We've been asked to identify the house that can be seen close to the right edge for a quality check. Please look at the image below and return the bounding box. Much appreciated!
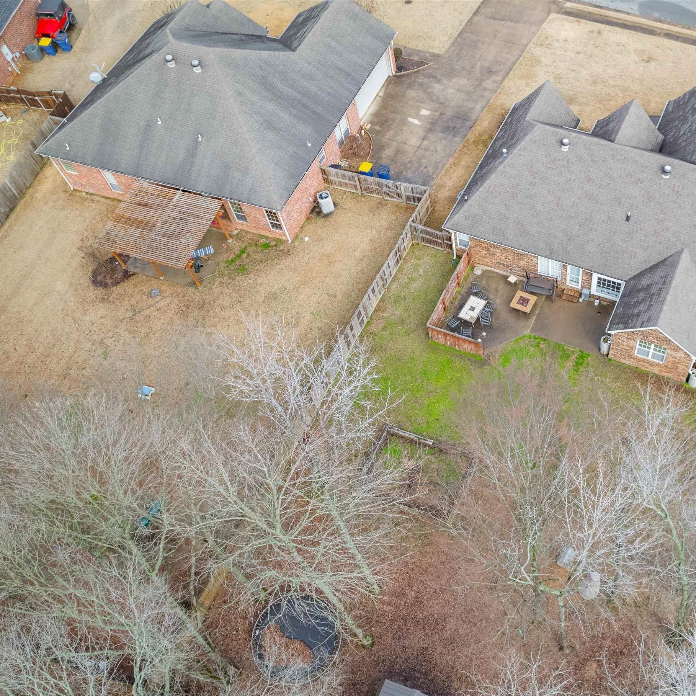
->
[443,79,696,380]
